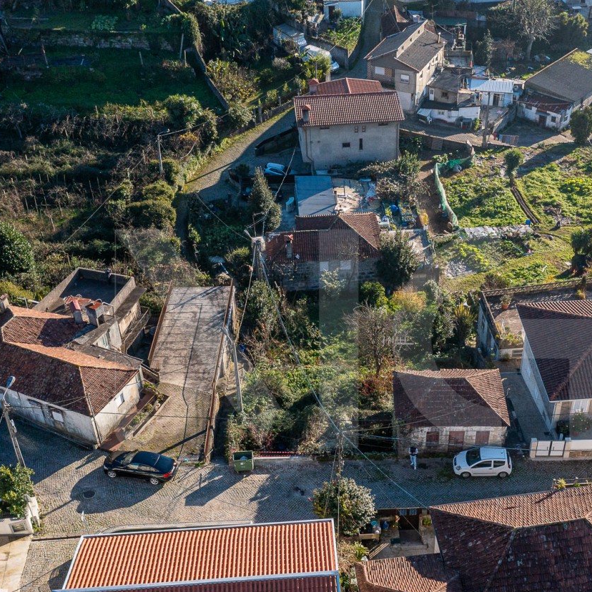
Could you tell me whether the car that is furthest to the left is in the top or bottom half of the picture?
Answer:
bottom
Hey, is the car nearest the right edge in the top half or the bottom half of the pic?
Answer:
bottom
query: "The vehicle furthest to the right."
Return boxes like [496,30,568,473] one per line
[454,443,514,476]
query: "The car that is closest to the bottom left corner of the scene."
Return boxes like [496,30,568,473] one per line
[98,443,179,482]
